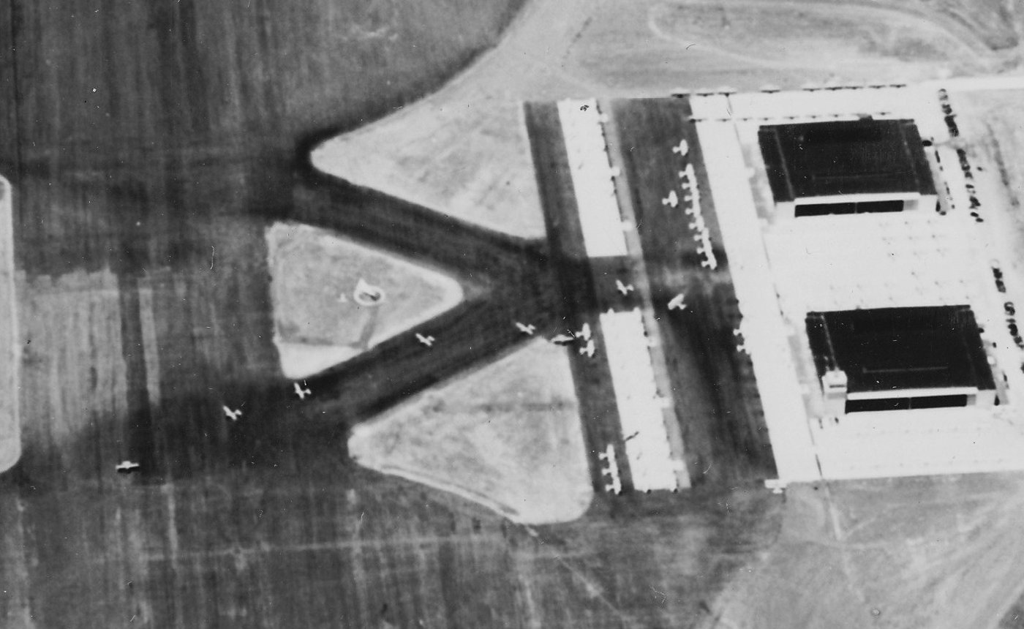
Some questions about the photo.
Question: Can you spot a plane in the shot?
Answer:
Yes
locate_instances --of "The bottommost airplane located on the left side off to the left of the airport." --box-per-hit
[117,458,139,472]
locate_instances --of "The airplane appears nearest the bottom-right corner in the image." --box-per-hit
[765,481,787,497]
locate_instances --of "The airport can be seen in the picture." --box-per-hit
[266,77,1024,524]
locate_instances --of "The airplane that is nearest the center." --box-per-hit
[516,322,535,335]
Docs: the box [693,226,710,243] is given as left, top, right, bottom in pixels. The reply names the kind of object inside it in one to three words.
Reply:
airplane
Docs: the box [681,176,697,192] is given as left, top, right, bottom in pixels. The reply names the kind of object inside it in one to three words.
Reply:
airplane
